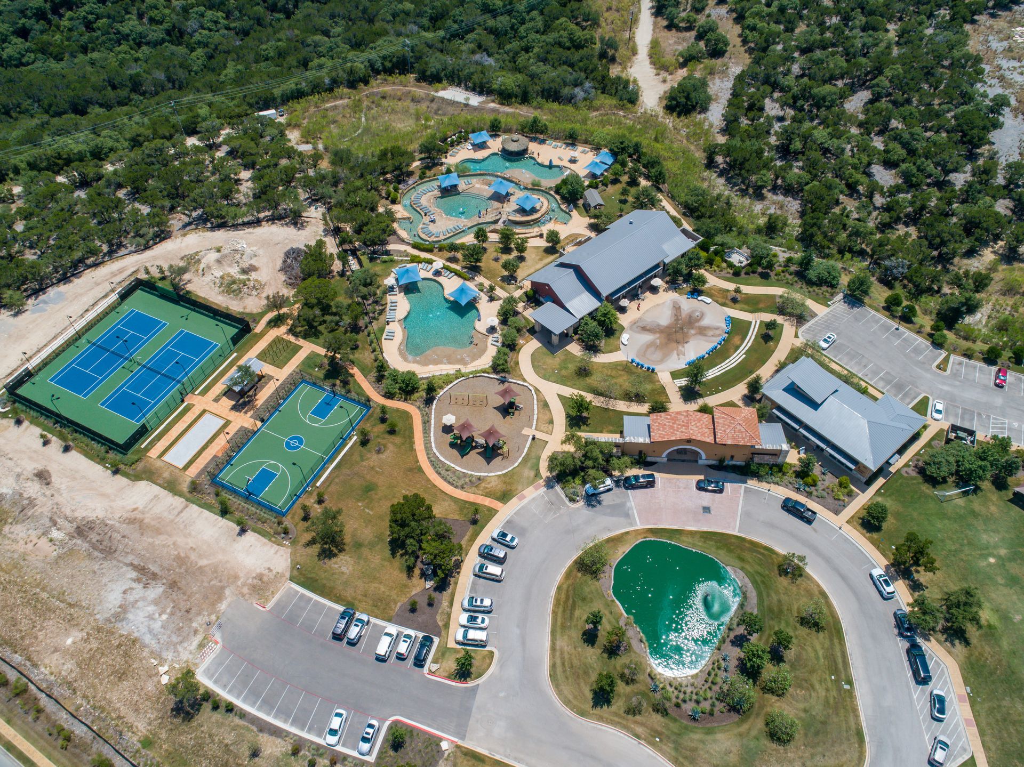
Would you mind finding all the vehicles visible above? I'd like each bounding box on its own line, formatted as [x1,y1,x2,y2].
[455,627,488,646]
[358,719,380,757]
[463,596,493,612]
[395,629,418,661]
[586,477,613,495]
[491,530,520,547]
[893,608,916,639]
[822,333,838,350]
[994,368,1009,389]
[932,400,945,421]
[375,627,399,662]
[459,613,489,630]
[473,563,505,582]
[479,545,507,563]
[907,645,934,685]
[697,479,724,494]
[327,710,348,747]
[871,571,895,600]
[929,689,948,724]
[412,634,435,670]
[332,610,355,641]
[625,475,655,490]
[928,734,952,767]
[781,501,818,524]
[346,614,370,646]
[277,106,285,118]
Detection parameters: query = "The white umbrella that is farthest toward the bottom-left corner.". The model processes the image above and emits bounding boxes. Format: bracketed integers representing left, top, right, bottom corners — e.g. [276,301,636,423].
[442,414,457,426]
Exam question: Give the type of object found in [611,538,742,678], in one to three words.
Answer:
pond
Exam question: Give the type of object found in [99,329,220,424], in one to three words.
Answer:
tennis court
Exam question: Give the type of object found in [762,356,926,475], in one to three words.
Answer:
building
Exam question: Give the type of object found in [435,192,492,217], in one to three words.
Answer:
swimming pool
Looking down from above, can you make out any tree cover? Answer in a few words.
Yes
